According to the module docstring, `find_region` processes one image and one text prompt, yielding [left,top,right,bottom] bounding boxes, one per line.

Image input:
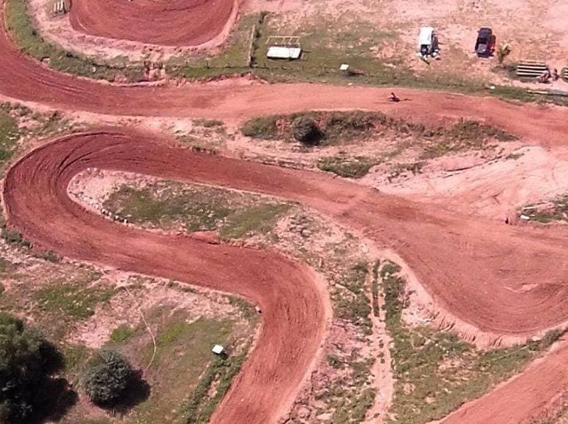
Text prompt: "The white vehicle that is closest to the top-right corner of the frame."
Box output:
[418,31,436,56]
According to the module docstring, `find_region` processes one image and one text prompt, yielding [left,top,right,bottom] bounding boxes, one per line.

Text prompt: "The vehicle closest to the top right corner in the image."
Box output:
[476,32,492,57]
